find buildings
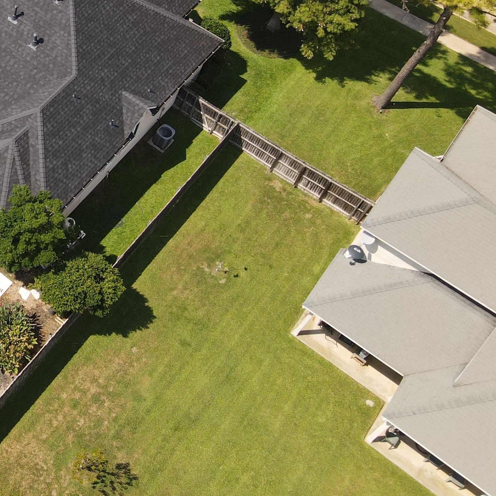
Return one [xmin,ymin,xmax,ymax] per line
[0,0,224,234]
[295,105,496,496]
